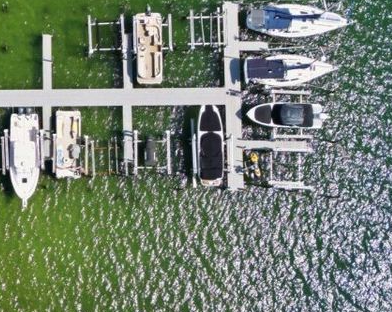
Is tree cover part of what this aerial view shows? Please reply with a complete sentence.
No, there is no tree cover in the image.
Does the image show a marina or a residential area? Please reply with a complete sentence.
It's a marina.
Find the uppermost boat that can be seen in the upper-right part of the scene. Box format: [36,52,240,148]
[243,0,361,38]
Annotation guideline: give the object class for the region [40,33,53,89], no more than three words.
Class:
pier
